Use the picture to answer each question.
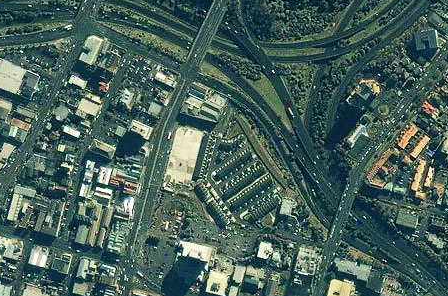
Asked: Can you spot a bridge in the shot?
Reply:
Yes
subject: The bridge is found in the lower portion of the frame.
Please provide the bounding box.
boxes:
[325,167,363,250]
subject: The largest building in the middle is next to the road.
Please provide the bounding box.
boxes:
[165,126,206,182]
